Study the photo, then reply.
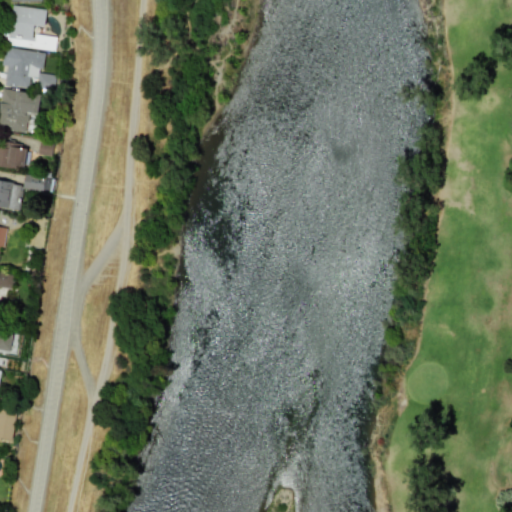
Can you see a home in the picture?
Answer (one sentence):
Yes, the photo shows a home.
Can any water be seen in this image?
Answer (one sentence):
Yes, the picture does contain water.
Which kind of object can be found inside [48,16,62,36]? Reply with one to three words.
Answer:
swimming pool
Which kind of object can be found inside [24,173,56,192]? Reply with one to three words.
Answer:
shed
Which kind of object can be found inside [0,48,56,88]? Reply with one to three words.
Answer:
house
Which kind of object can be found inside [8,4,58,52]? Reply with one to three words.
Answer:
house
